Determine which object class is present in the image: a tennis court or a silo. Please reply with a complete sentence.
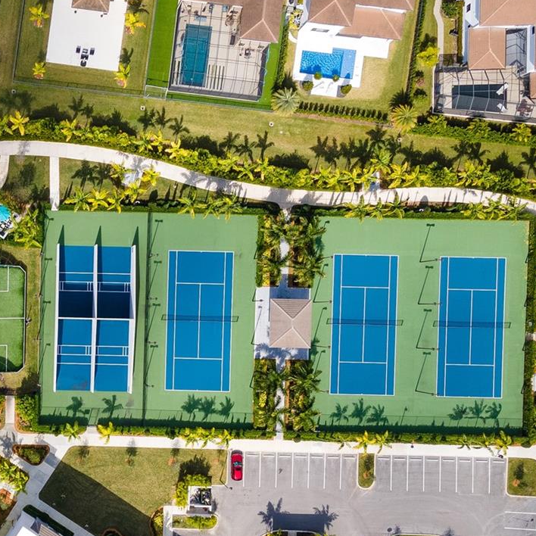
Visible in the photo is a tennis court.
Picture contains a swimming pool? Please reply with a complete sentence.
Yes, the frame does contain a swimming pool.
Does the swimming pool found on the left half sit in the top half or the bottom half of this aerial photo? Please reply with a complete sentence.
The swimming pool found on the left half is in the top half of the image.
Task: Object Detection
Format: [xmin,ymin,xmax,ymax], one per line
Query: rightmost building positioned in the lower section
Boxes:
[267,298,312,349]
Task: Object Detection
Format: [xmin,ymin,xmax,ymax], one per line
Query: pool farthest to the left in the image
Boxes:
[181,24,212,86]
